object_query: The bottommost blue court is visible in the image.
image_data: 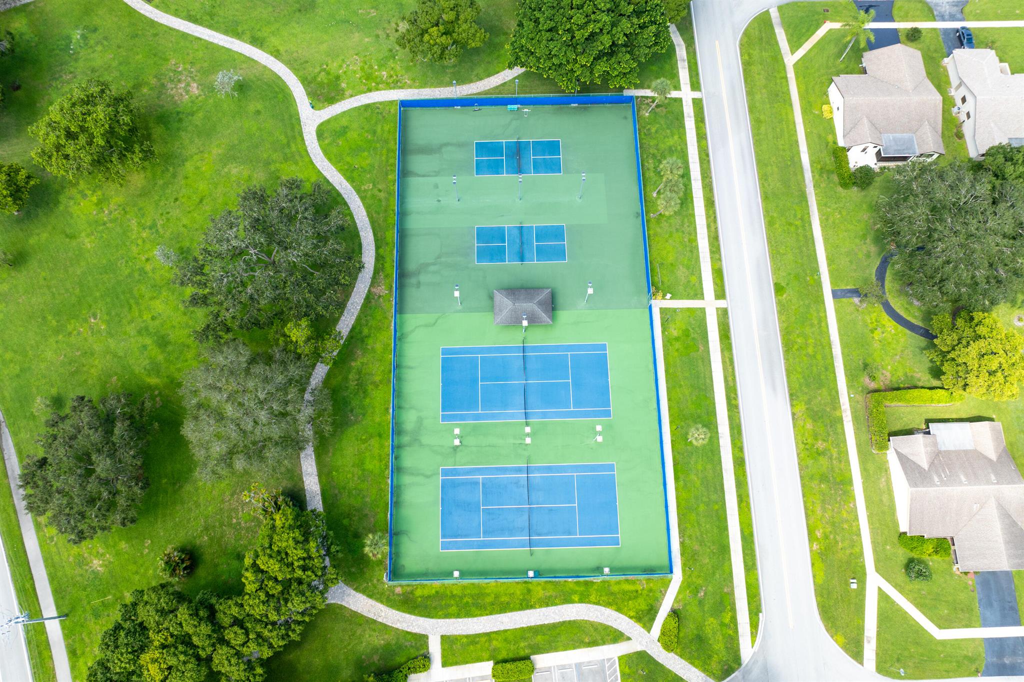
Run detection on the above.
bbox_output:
[440,463,621,552]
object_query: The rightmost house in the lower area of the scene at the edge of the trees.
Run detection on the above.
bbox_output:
[888,419,1024,572]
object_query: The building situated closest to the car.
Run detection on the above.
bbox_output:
[946,44,1024,166]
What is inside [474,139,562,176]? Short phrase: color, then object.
blue sports court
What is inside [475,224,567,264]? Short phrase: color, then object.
blue sports court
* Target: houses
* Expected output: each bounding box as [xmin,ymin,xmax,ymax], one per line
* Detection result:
[946,44,1024,166]
[888,419,1024,572]
[829,44,946,170]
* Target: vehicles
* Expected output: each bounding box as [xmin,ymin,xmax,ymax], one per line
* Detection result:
[956,26,974,48]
